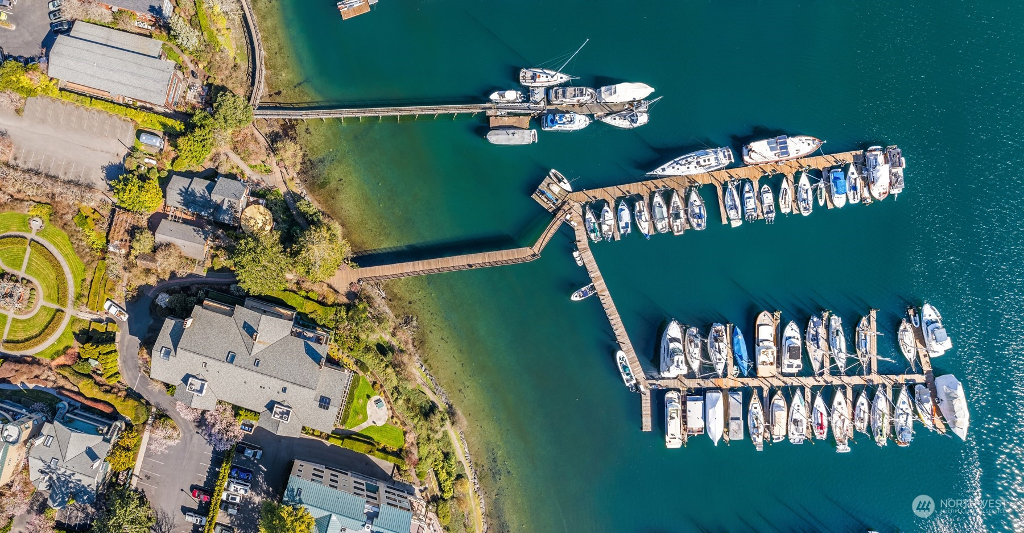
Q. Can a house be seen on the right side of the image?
No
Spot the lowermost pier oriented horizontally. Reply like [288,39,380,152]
[647,374,926,388]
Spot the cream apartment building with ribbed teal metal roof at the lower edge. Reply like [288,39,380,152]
[280,456,430,533]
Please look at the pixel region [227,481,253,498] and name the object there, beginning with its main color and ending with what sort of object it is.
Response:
white vehicle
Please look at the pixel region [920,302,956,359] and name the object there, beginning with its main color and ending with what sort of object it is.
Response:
white boat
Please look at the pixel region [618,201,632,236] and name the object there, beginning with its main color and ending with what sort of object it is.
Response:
white boat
